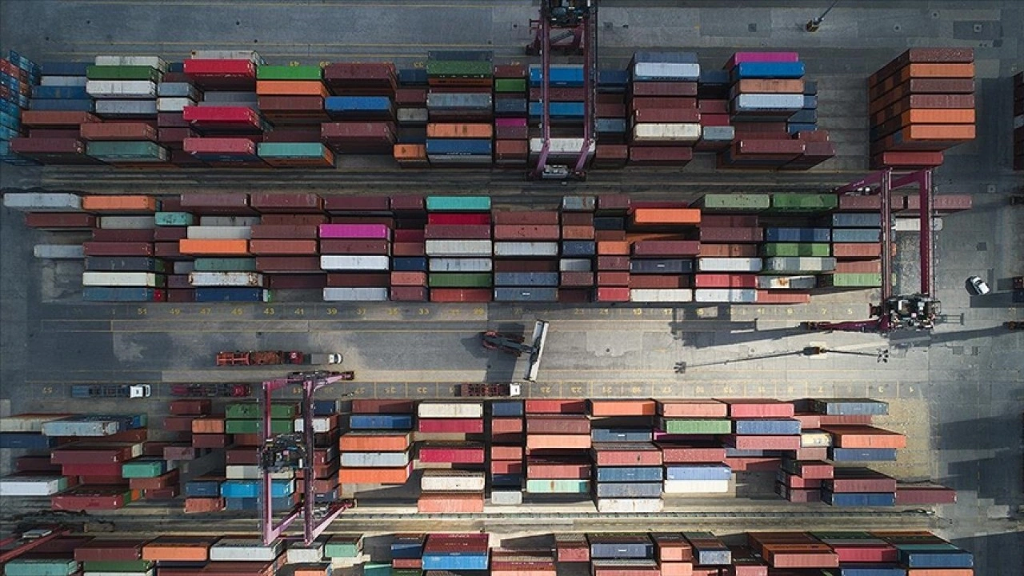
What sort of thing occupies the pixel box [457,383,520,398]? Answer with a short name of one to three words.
vehicle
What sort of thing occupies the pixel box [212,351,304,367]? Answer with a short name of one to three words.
vehicle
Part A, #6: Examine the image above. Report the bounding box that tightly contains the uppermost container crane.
[517,0,594,175]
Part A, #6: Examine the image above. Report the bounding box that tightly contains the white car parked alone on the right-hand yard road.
[969,275,990,296]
